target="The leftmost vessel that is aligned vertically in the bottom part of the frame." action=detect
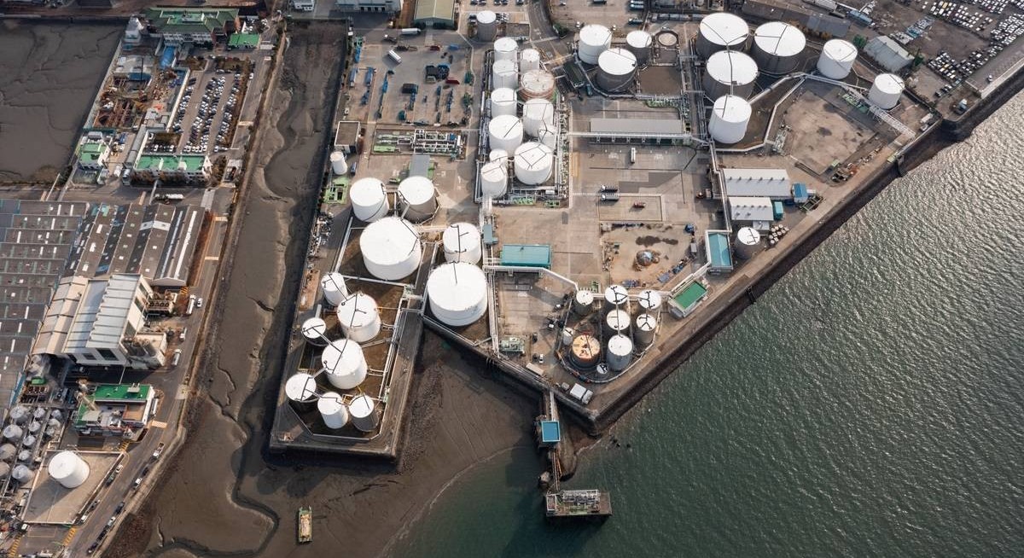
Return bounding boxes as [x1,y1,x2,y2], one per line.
[296,502,312,544]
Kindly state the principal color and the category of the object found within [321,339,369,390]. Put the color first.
white storage tank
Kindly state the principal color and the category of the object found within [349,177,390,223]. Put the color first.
white storage tank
